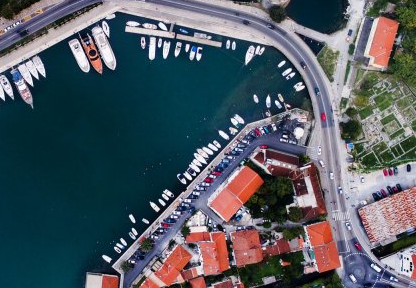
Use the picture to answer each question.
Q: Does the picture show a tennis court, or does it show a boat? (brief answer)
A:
boat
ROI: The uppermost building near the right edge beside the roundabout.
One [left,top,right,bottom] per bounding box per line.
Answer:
[353,186,416,245]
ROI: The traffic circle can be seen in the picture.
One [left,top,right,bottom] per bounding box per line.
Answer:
[337,252,377,288]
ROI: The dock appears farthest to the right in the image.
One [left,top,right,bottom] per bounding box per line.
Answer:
[175,34,222,48]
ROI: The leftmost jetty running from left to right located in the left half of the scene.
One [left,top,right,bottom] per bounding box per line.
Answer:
[125,26,174,39]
